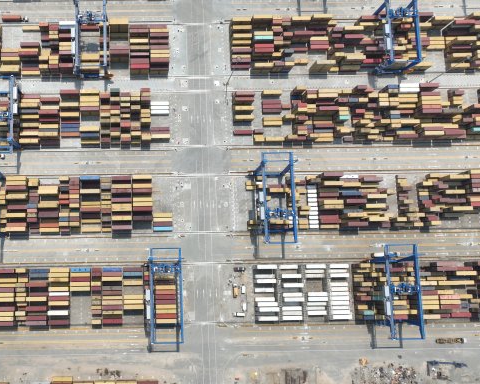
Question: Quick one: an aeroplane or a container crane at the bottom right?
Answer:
container crane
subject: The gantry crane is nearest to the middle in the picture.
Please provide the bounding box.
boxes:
[248,152,299,243]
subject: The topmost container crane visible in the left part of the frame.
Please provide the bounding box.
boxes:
[71,0,112,78]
